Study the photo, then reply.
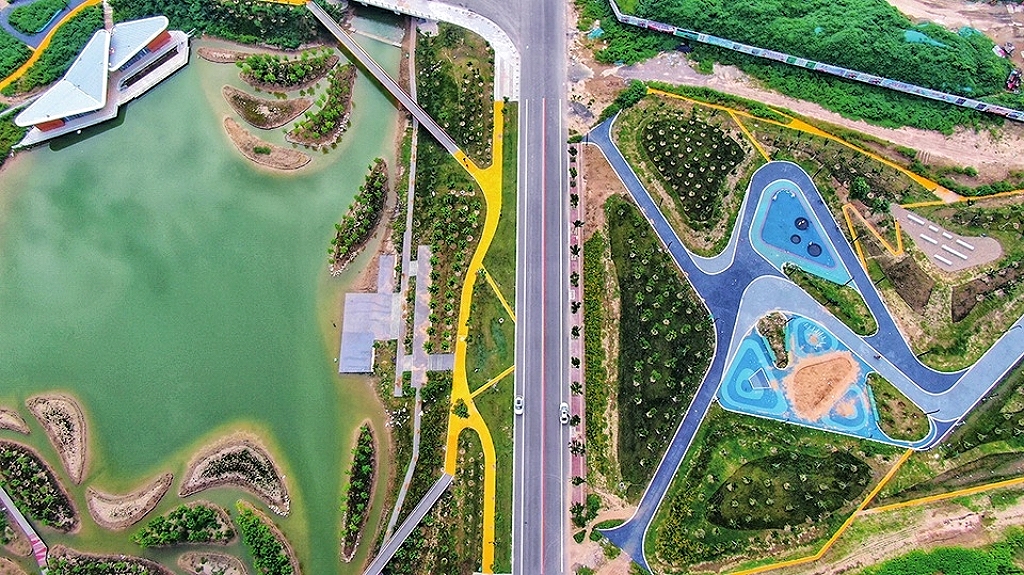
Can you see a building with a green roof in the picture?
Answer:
No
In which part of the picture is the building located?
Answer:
top left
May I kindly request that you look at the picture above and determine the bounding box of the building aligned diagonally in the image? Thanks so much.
[12,14,194,151]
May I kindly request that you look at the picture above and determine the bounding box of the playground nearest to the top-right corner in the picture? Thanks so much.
[749,179,862,293]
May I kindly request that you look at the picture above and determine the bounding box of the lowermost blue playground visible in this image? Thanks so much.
[719,311,937,447]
